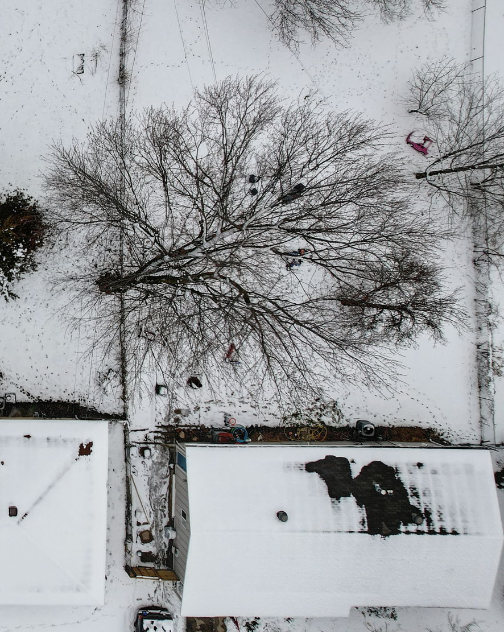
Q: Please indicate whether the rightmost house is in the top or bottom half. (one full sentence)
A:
It is in the bottom half that the rightmost house appears.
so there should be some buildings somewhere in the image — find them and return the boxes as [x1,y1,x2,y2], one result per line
[170,427,504,617]
[0,418,108,607]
